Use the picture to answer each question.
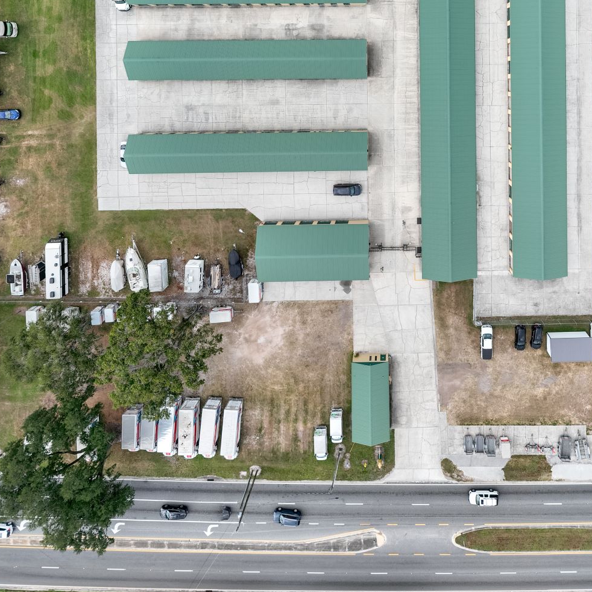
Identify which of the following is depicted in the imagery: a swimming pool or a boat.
boat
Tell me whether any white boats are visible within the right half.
No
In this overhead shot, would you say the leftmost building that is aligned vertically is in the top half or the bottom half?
bottom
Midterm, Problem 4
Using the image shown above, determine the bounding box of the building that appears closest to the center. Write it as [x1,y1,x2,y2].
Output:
[254,219,370,280]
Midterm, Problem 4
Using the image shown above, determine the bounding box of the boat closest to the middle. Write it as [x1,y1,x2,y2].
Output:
[230,251,242,278]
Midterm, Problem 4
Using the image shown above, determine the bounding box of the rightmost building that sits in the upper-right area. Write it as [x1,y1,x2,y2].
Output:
[506,0,567,281]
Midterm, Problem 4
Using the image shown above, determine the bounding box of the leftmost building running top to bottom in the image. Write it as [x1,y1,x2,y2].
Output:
[352,353,390,452]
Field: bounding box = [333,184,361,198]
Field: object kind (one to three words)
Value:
vehicle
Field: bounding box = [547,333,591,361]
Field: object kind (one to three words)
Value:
shed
